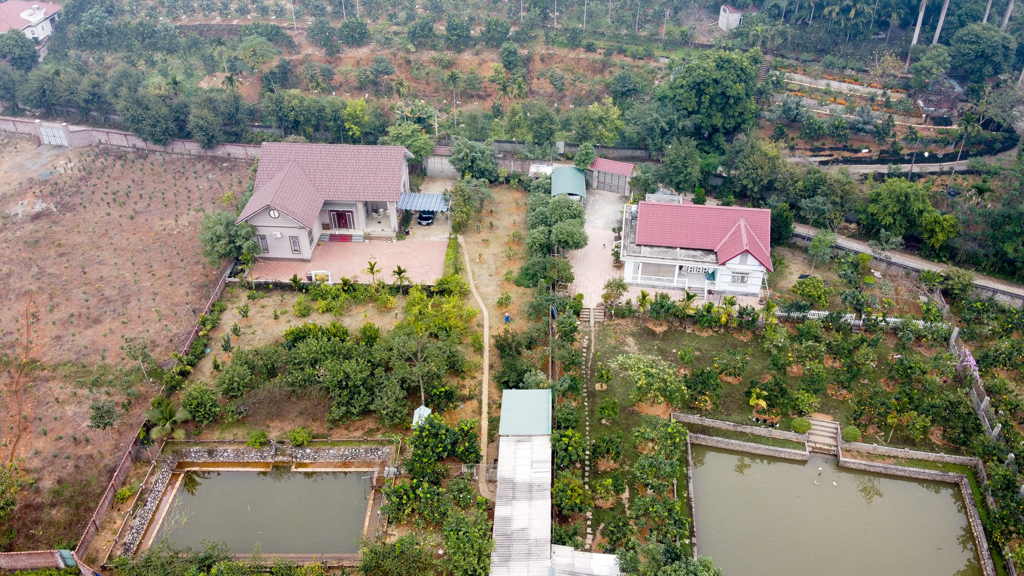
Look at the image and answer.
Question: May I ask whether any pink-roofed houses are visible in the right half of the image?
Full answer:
Yes, a pink-roofed house is visible in the right half of the image.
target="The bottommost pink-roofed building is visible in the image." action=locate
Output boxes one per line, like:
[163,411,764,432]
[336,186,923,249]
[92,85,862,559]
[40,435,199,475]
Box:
[620,191,775,301]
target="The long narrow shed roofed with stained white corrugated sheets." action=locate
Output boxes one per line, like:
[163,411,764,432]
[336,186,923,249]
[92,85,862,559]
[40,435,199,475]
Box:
[497,435,560,576]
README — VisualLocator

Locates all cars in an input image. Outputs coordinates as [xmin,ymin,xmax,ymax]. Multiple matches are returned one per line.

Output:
[418,211,436,225]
